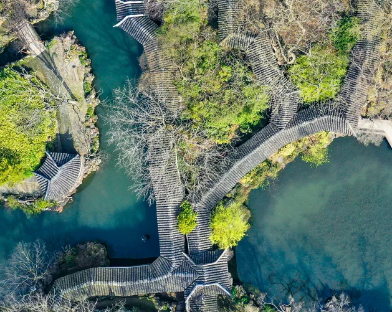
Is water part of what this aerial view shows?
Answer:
Yes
